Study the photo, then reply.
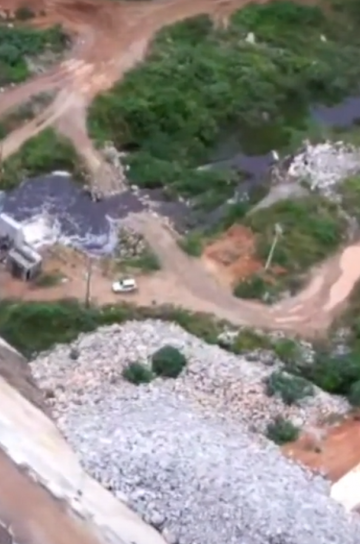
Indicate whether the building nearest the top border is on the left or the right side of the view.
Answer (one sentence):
You can find the building nearest the top border on the left side of the picture.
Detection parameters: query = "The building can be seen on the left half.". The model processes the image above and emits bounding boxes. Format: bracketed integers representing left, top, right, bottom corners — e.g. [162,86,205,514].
[0,217,44,279]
